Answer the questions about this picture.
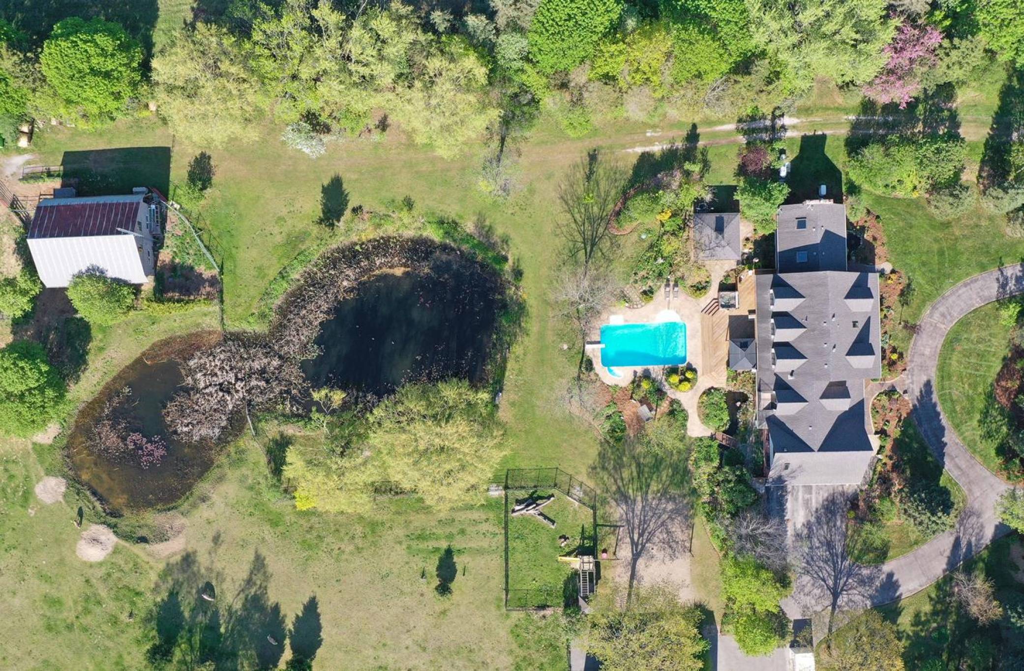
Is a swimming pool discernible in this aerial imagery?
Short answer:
Yes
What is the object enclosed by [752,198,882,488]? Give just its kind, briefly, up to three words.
house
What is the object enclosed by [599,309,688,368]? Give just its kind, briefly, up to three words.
swimming pool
